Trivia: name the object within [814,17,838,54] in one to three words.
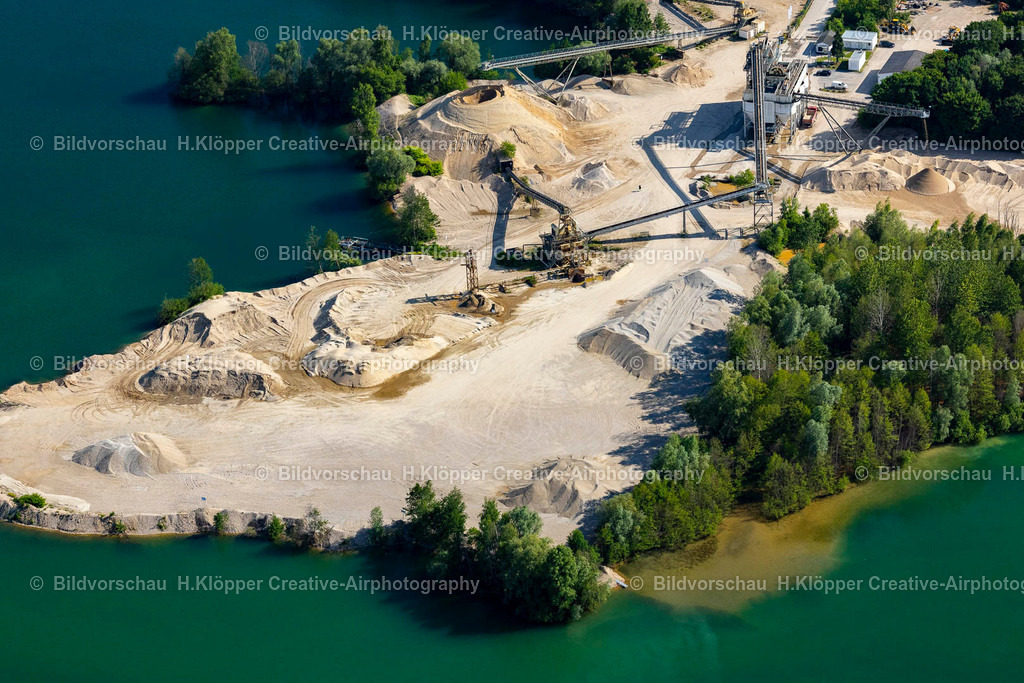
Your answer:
building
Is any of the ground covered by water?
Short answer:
Yes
